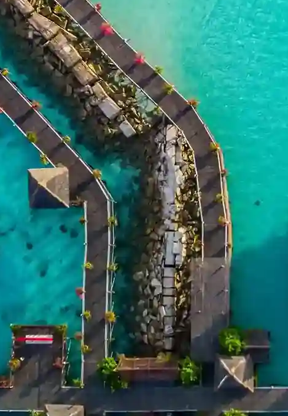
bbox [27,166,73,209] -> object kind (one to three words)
gazebo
